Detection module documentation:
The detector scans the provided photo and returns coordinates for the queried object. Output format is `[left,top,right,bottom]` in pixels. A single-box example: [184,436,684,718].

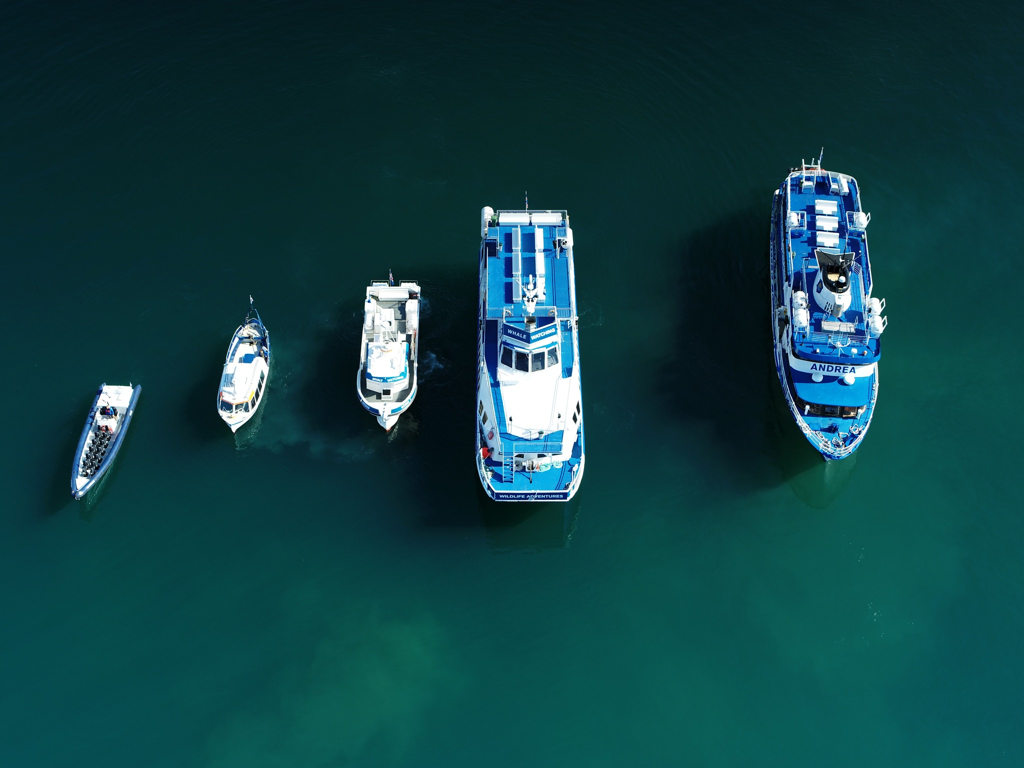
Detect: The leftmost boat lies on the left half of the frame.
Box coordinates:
[70,382,144,502]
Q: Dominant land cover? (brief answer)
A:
water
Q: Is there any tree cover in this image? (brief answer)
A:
No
